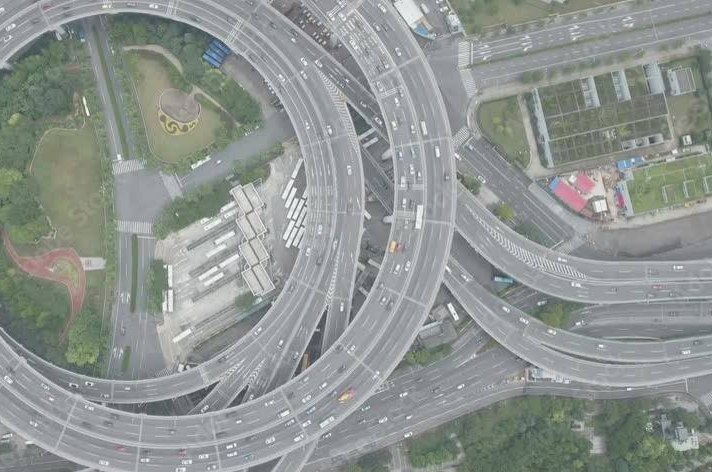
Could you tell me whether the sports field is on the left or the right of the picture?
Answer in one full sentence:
You can find the sports field on the right side of the picture.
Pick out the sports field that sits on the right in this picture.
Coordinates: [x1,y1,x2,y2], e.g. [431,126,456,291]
[630,153,712,213]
